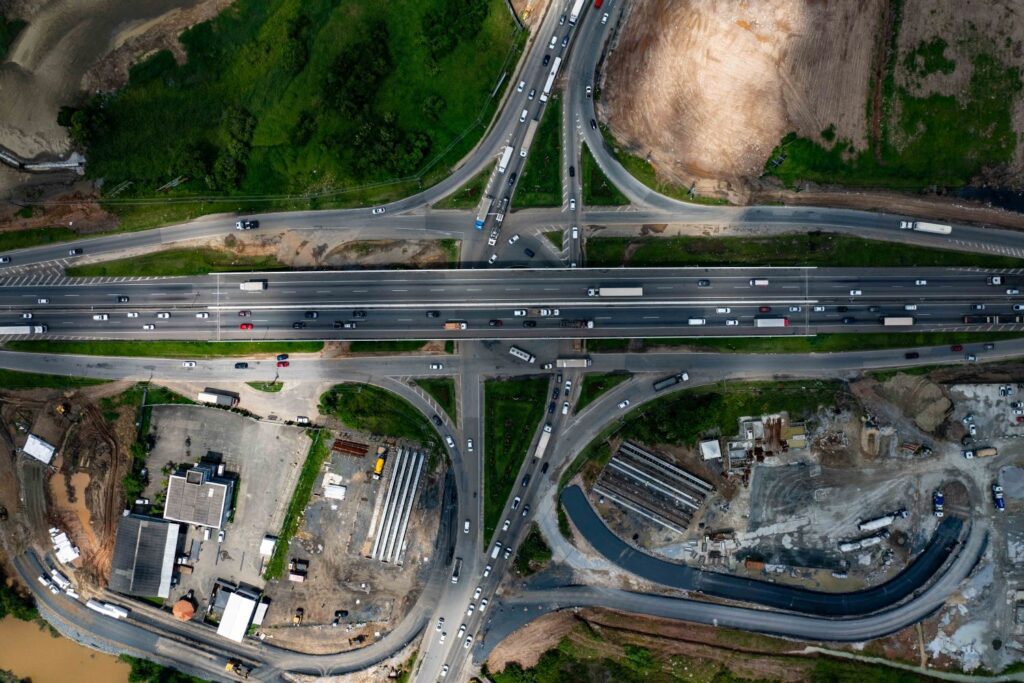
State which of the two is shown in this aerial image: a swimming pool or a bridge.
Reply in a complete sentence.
Visible in the photo is a bridge.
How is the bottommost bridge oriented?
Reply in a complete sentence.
Seen from above, the bottommost bridge lies from side to side.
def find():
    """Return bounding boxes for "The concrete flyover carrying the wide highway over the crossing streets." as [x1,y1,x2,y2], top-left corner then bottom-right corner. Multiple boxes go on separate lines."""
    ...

[208,267,818,342]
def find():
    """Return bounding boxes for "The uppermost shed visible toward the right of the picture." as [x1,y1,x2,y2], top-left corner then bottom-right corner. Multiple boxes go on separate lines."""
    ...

[699,439,721,459]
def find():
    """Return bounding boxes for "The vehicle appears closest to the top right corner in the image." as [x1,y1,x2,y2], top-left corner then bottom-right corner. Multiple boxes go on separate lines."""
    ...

[898,221,953,235]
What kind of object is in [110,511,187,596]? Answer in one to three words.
building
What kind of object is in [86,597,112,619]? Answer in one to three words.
truck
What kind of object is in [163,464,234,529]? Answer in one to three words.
building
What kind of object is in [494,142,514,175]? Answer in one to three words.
vehicle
